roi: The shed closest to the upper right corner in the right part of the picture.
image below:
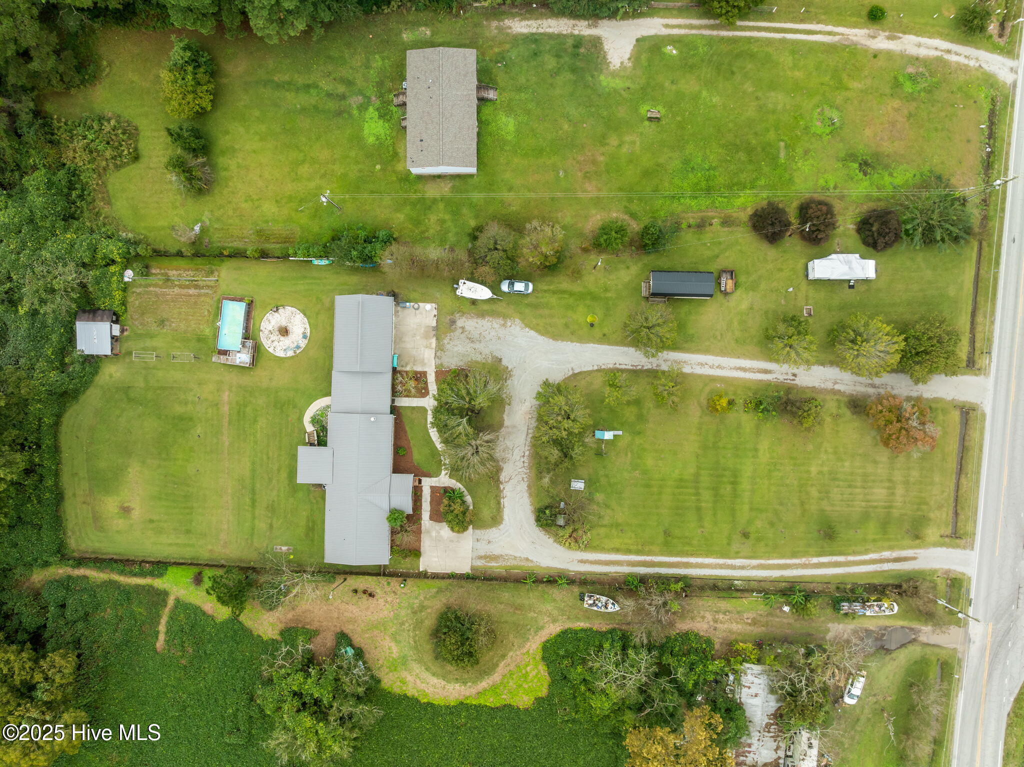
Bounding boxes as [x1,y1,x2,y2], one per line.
[649,271,715,298]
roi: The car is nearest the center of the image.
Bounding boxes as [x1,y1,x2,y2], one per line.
[501,279,533,294]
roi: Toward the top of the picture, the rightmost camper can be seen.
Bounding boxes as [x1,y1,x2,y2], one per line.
[802,254,876,281]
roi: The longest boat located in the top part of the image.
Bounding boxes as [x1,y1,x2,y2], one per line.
[453,278,501,299]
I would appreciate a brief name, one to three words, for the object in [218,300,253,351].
swimming pool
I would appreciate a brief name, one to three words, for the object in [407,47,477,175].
house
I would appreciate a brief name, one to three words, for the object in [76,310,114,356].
shed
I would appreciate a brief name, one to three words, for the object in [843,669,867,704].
vehicle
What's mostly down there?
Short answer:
grass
